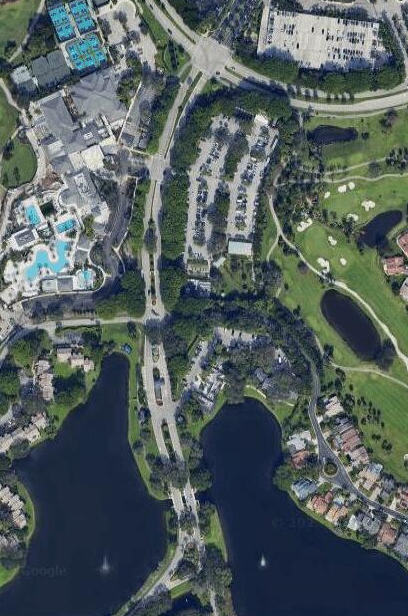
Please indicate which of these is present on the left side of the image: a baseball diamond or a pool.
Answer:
pool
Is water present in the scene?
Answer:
Yes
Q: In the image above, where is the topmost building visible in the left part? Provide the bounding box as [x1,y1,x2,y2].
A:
[74,66,125,116]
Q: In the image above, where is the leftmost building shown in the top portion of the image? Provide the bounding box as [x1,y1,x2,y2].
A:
[9,226,39,252]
